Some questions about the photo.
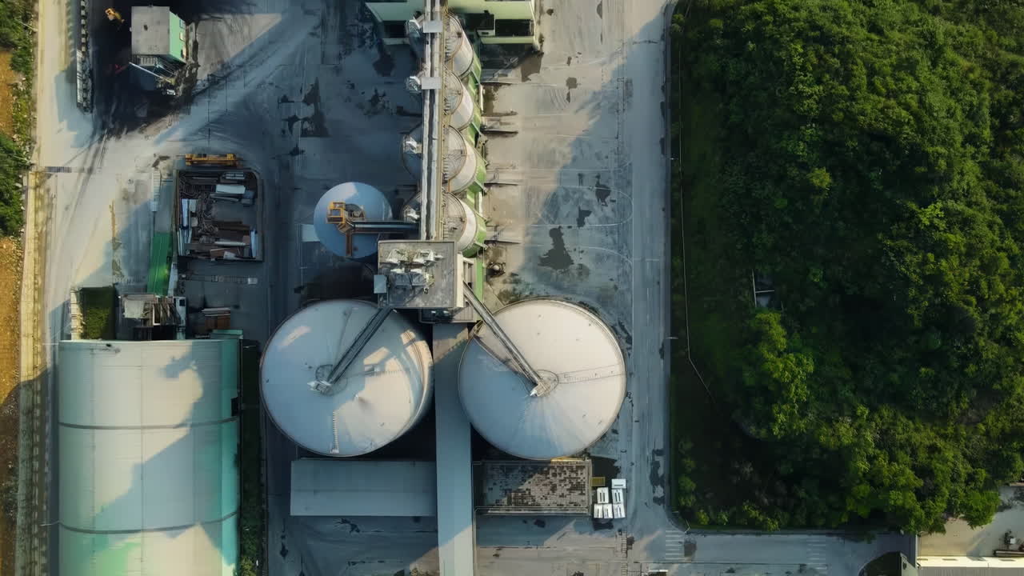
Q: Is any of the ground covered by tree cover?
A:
Yes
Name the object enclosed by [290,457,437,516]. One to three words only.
building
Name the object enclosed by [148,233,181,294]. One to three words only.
shed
